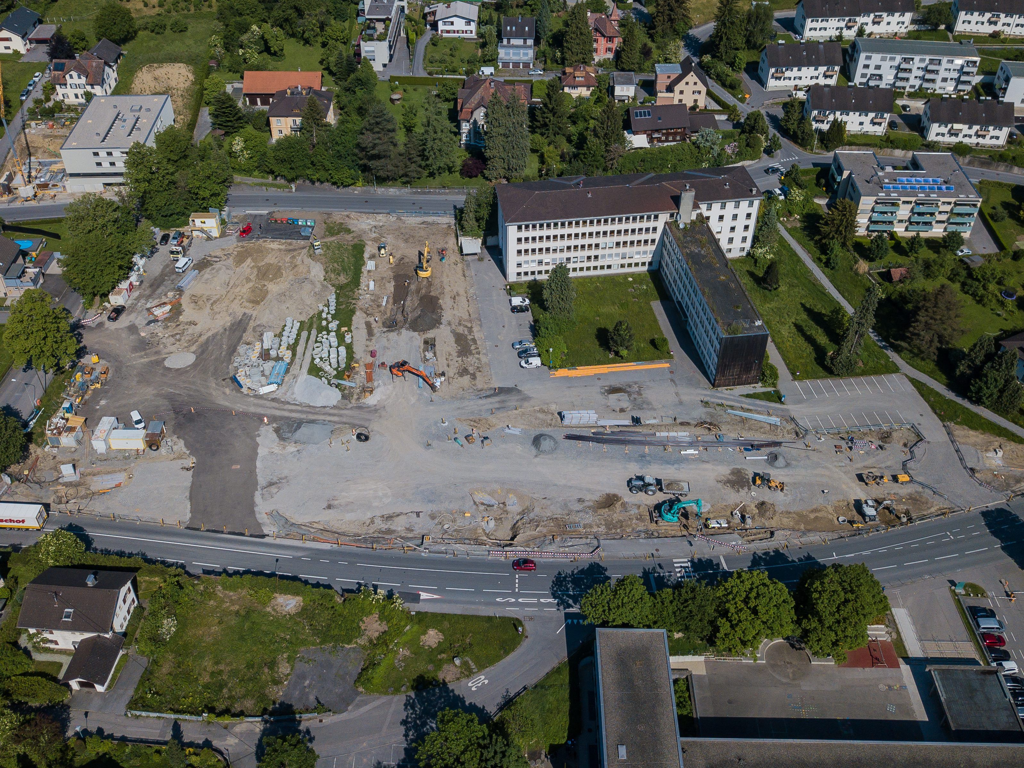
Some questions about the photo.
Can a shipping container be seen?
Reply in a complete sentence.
Yes, the picture does show a shipping container.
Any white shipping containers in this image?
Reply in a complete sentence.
Yes, a white shipping container appears in the view.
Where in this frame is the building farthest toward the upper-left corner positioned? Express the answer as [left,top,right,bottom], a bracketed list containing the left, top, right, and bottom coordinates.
[0,9,55,56]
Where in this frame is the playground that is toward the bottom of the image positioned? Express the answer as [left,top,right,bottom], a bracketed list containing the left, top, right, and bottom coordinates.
[684,661,930,738]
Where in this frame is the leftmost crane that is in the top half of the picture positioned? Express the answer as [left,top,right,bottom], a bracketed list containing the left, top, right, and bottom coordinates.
[0,58,36,190]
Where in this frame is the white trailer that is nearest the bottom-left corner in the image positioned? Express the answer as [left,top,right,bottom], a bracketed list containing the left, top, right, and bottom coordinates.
[0,501,48,529]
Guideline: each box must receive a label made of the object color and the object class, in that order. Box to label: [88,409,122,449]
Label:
white shipping container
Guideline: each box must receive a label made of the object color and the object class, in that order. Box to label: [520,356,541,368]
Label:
white vehicle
